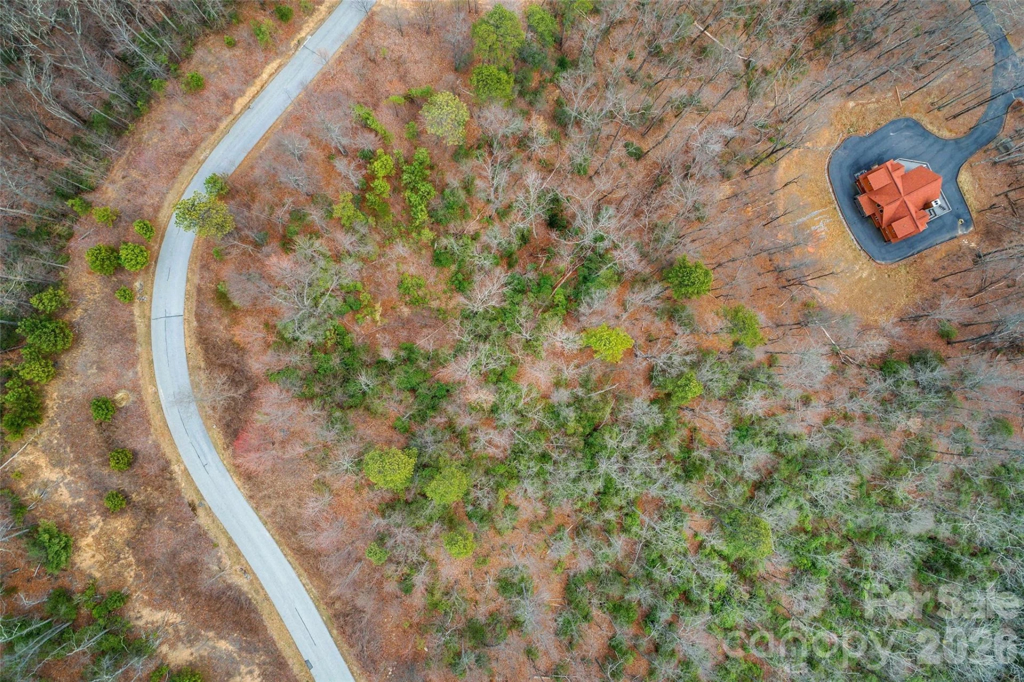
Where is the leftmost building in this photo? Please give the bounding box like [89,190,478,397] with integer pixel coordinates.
[845,159,942,243]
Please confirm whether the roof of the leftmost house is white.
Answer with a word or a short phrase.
No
